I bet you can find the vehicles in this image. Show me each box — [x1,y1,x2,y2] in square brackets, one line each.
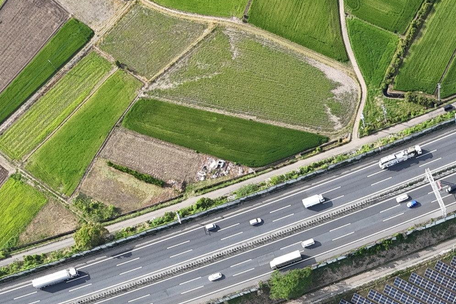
[408,201,417,208]
[270,250,303,270]
[396,195,409,203]
[29,266,79,288]
[378,146,423,169]
[301,195,326,209]
[302,240,315,248]
[207,224,216,231]
[442,104,454,114]
[209,273,222,281]
[249,218,262,226]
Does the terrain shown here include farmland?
Yes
